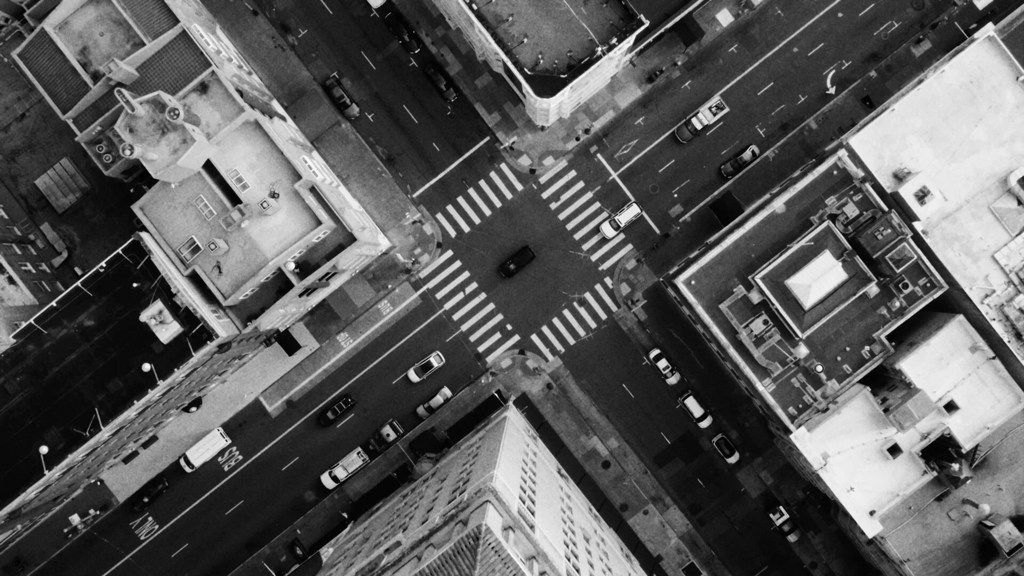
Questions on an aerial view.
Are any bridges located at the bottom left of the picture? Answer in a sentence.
No, no bridge is visible at the bottom left of the picture.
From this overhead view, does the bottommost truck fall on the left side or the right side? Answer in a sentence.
The bottommost truck is on the right side of the image.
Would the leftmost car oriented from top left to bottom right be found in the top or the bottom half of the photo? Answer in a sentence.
You can find the leftmost car oriented from top left to bottom right in the top half.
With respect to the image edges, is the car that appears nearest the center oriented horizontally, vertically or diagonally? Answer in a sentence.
The car that appears nearest the center runs diagonally in the image.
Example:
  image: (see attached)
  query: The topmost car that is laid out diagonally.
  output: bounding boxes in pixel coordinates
[384,10,424,56]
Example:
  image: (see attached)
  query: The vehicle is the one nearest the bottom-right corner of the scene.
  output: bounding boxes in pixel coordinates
[766,504,799,542]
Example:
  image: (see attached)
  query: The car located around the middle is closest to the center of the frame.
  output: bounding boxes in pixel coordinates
[499,243,538,278]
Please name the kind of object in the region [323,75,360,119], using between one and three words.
car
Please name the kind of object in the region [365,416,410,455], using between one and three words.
truck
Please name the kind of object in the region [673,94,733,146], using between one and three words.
truck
